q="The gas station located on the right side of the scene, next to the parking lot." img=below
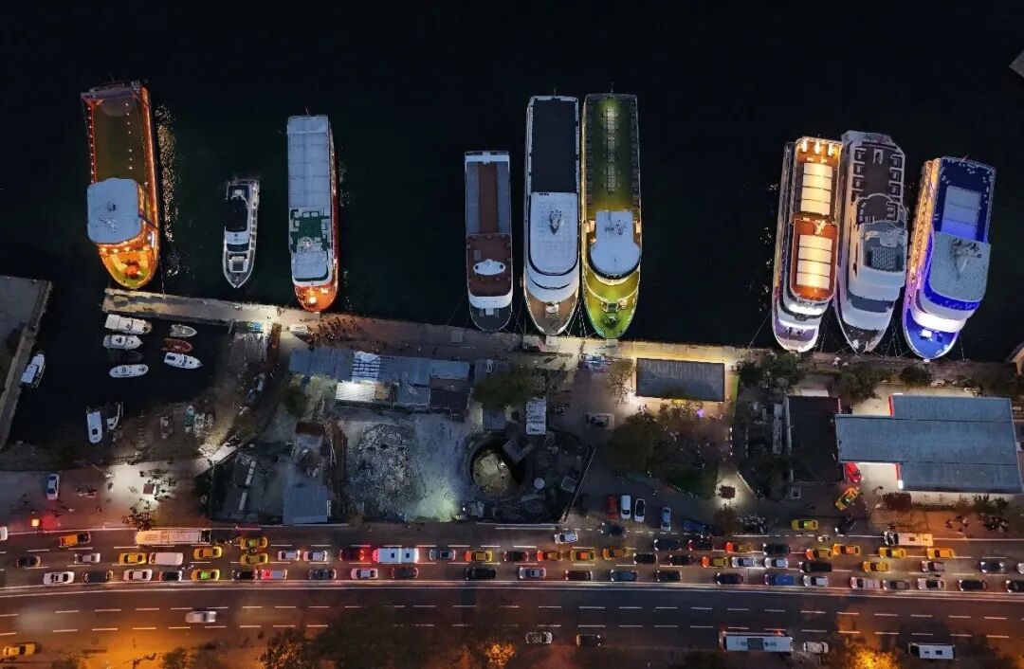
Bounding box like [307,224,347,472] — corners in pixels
[836,393,1023,494]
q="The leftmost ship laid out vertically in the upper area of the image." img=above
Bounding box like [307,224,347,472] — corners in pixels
[80,78,170,298]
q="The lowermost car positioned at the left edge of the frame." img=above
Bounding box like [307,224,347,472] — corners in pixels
[3,642,36,658]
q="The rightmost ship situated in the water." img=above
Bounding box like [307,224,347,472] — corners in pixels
[893,155,998,361]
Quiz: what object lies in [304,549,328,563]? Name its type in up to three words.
car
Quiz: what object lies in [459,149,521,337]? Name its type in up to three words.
ship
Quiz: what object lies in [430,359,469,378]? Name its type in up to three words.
shed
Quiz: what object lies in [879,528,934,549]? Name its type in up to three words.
truck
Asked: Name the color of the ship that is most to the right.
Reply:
blue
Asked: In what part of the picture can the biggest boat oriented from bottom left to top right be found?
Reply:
left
